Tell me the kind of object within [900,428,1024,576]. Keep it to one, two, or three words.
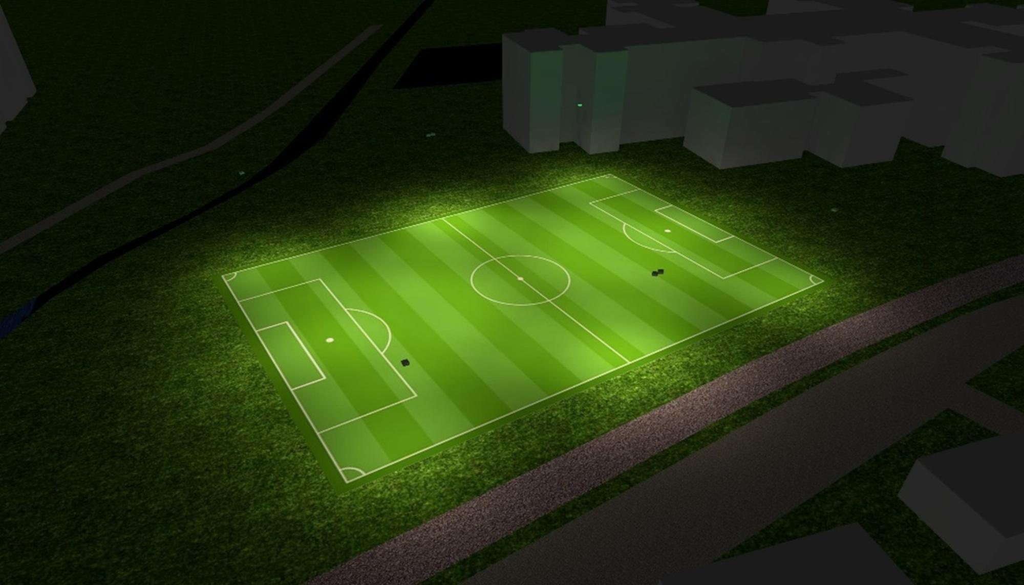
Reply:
house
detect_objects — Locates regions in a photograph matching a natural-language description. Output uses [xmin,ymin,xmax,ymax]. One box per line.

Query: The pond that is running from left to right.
[393,43,503,89]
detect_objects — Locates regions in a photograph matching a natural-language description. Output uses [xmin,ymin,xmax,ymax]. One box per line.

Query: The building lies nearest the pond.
[503,0,1024,177]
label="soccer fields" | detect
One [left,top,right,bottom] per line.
[212,172,834,495]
